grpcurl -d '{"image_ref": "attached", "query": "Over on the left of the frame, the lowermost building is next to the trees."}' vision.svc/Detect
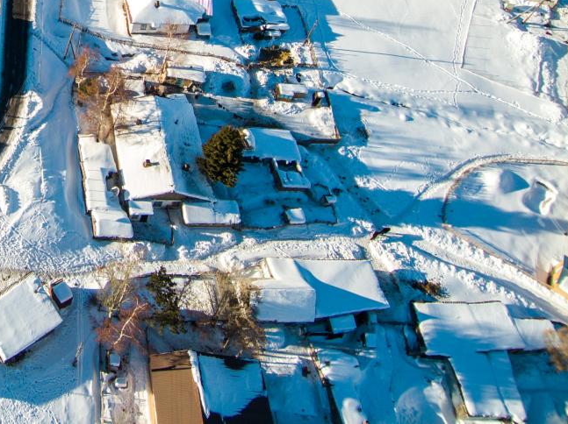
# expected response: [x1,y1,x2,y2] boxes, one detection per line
[148,348,268,424]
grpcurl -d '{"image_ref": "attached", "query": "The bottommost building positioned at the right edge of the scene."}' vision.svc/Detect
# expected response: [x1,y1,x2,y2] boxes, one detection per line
[399,298,560,424]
